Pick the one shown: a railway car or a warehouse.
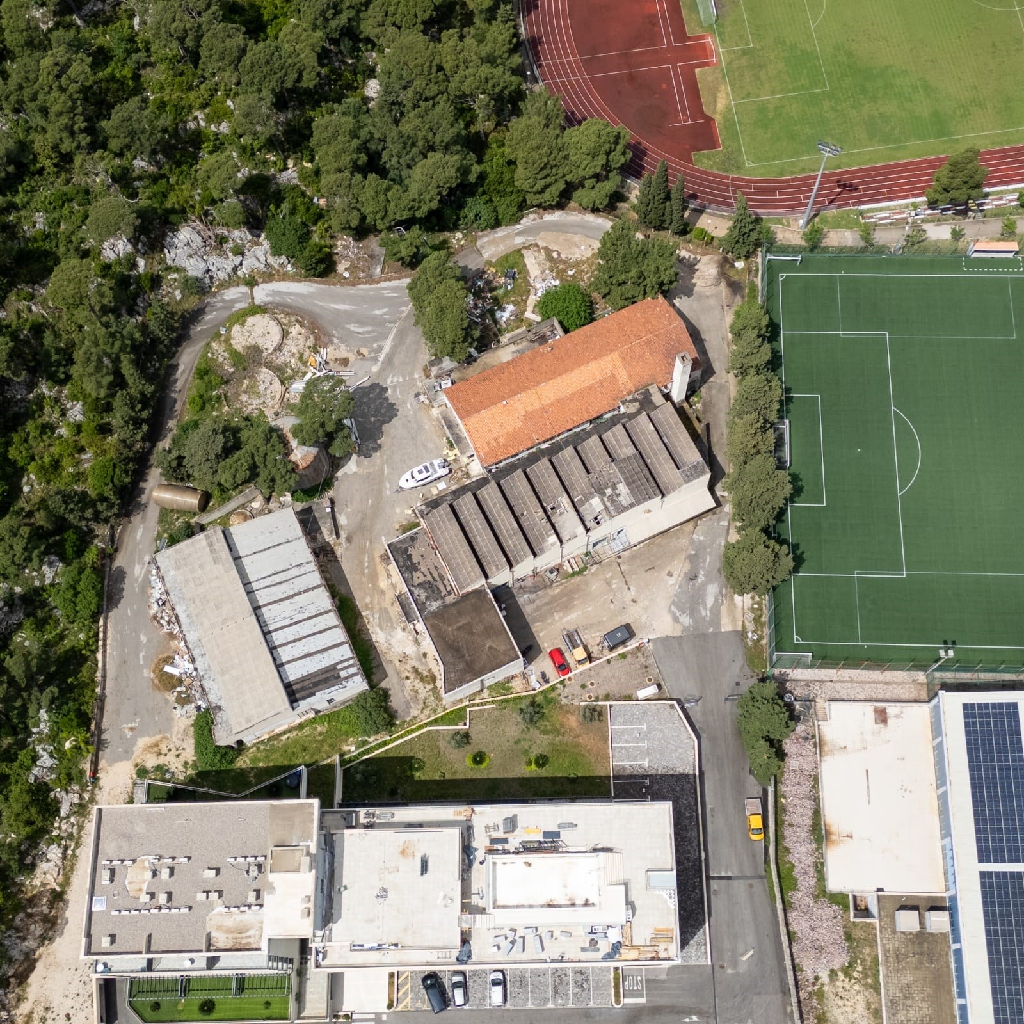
warehouse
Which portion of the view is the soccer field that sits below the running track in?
right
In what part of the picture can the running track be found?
top right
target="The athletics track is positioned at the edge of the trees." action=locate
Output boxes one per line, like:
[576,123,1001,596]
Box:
[525,0,1024,216]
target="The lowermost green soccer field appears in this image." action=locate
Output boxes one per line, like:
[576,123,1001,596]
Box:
[752,251,1024,676]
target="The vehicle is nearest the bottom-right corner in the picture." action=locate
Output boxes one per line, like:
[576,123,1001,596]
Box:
[747,798,764,840]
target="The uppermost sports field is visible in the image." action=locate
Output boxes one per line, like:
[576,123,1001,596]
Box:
[680,0,1024,178]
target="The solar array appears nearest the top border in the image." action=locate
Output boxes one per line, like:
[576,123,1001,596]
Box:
[963,702,1024,863]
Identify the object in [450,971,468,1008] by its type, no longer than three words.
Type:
car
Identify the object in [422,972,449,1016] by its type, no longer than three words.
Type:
vehicle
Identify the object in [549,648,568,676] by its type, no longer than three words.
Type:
car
